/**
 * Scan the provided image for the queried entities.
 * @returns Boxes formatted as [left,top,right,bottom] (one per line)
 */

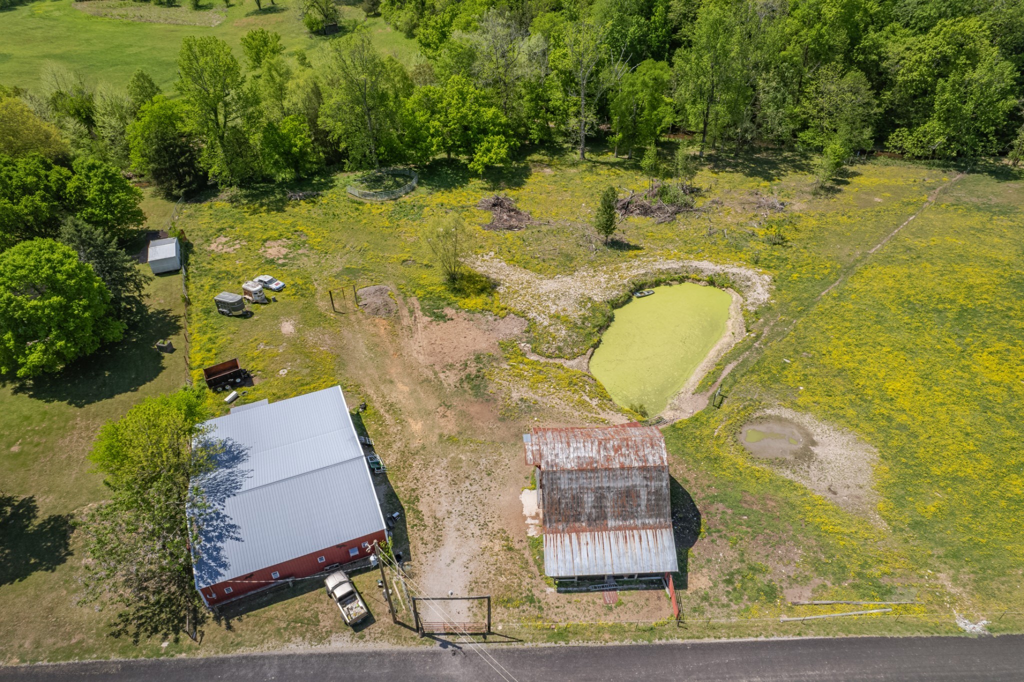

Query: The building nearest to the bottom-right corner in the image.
[522,421,678,590]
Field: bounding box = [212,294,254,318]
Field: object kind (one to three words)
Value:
trailer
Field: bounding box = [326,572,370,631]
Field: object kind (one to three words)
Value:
truck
